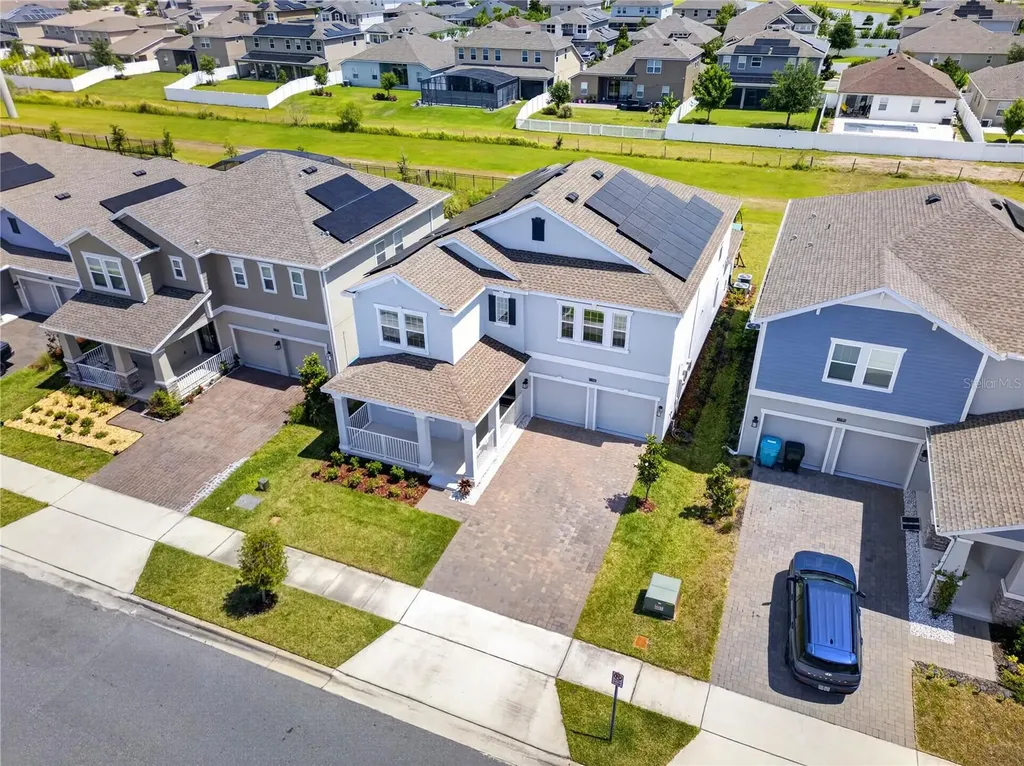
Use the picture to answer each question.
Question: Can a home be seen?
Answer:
Yes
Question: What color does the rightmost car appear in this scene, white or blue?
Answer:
blue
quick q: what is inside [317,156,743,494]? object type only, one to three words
house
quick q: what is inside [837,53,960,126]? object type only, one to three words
house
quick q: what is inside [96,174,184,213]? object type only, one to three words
solar panel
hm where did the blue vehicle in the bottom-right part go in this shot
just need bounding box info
[785,555,866,699]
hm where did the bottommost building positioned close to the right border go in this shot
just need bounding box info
[718,181,1024,630]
